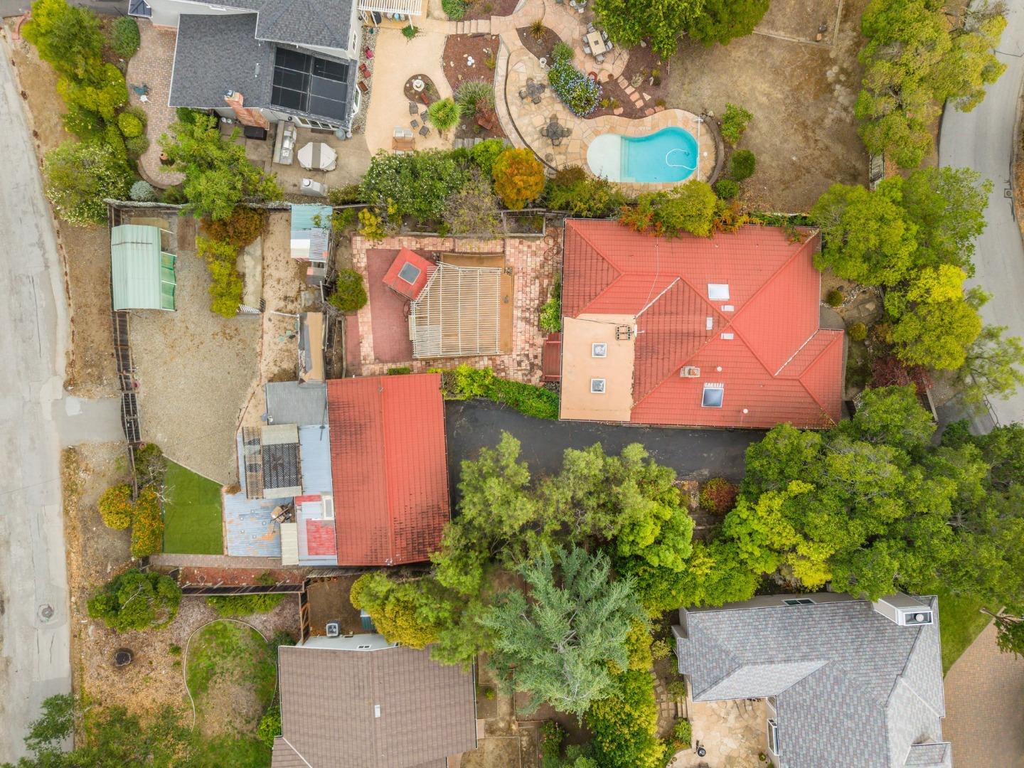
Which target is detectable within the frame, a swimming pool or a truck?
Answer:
swimming pool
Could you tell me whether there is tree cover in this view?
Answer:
Yes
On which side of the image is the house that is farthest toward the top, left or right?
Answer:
left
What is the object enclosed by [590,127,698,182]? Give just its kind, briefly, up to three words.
swimming pool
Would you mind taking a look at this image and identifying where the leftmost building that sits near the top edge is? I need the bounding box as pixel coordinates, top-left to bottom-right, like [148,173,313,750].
[127,0,361,134]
